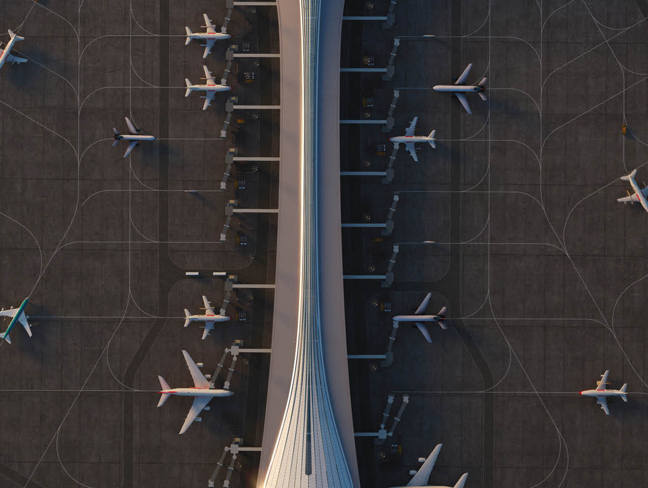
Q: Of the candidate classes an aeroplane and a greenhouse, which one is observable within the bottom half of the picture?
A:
aeroplane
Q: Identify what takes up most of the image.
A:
paved ground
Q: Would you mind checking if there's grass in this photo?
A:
No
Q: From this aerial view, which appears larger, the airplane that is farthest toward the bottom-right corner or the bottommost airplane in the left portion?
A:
the bottommost airplane in the left portion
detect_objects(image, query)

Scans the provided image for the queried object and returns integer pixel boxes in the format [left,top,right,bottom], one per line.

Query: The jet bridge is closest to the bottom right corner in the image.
[355,393,408,444]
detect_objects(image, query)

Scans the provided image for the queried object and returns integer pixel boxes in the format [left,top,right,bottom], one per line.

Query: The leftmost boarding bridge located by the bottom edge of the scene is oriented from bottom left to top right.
[208,435,261,487]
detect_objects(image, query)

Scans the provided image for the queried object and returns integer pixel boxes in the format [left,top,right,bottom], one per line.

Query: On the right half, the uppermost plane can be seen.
[433,62,487,115]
